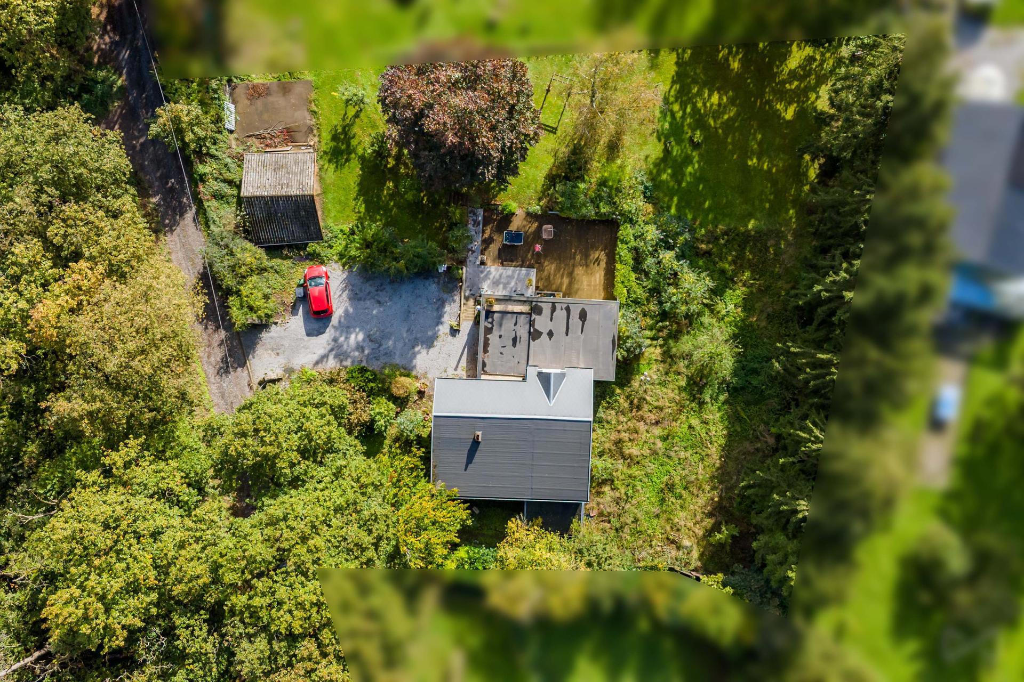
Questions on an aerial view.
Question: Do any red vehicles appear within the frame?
Yes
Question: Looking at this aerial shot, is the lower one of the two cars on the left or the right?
right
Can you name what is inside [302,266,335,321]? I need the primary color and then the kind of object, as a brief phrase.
red car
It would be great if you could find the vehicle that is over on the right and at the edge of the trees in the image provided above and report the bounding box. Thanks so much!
[929,377,966,432]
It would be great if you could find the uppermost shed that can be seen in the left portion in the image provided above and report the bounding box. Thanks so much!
[240,151,325,246]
